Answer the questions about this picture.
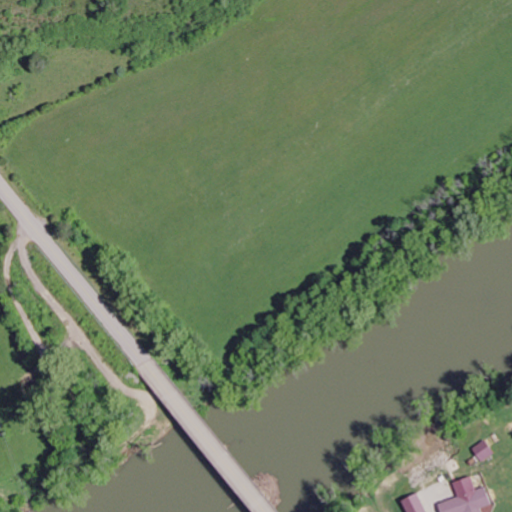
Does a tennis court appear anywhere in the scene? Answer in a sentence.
No, I can't see a single tennis court in this photo.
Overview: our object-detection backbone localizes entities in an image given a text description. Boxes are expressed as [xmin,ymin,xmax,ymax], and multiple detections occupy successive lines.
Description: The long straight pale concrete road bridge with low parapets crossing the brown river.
[132,350,279,512]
